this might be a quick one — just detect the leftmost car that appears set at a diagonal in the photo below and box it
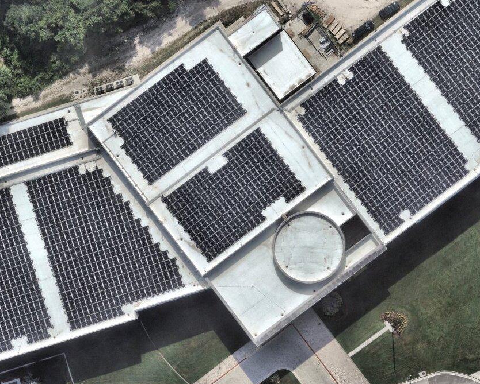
[351,21,373,38]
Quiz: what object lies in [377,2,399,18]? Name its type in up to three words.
car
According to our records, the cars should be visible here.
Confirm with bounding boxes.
[351,21,373,38]
[377,2,399,18]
